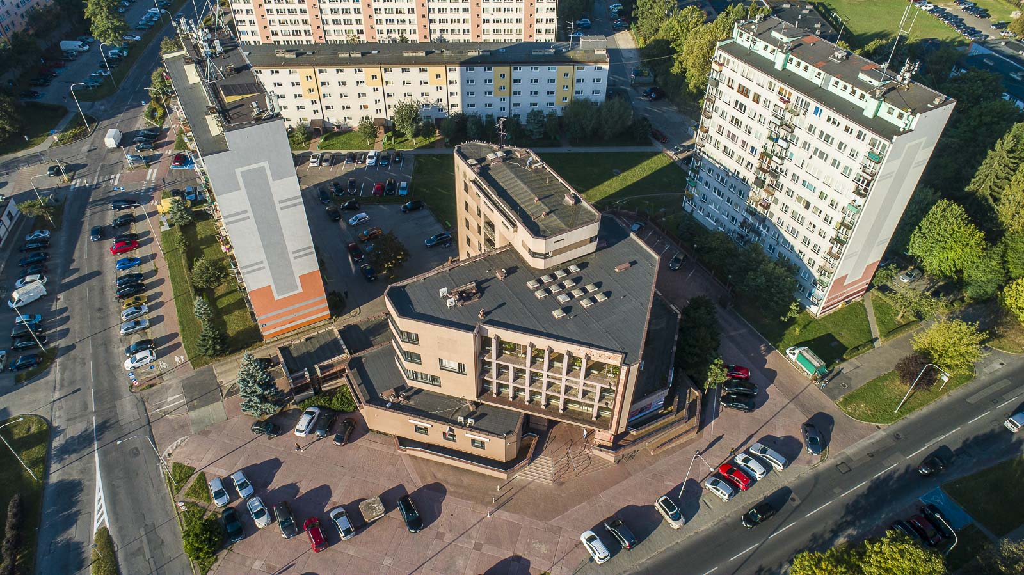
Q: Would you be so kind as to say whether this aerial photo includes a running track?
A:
No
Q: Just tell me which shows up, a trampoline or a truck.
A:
truck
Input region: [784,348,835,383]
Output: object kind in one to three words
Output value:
truck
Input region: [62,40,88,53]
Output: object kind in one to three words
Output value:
vehicle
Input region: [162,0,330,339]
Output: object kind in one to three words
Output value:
building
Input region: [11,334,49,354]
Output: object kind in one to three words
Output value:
car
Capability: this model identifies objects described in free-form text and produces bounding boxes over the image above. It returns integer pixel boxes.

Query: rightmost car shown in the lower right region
[1003,409,1024,433]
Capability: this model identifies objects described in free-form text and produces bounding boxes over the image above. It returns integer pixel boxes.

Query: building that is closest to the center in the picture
[337,107,678,463]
